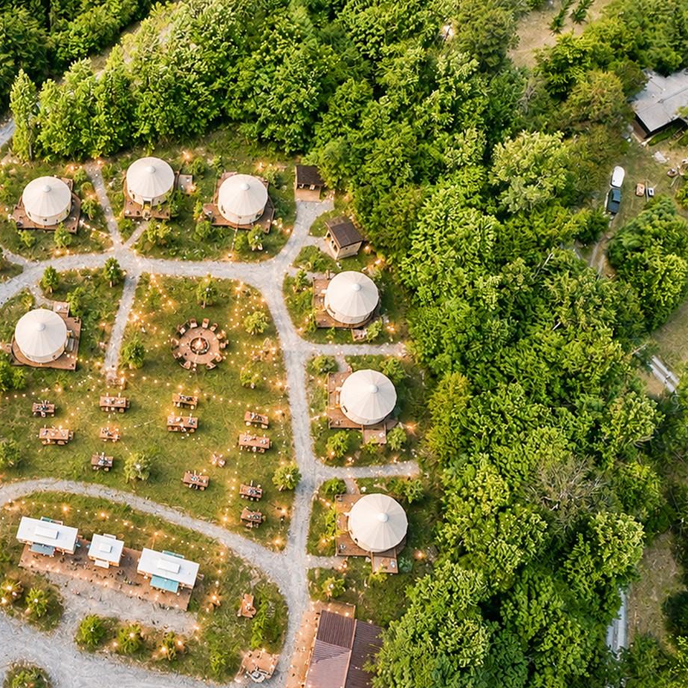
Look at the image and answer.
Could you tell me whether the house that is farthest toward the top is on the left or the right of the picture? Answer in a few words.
right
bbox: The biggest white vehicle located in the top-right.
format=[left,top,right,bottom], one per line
[607,165,625,190]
